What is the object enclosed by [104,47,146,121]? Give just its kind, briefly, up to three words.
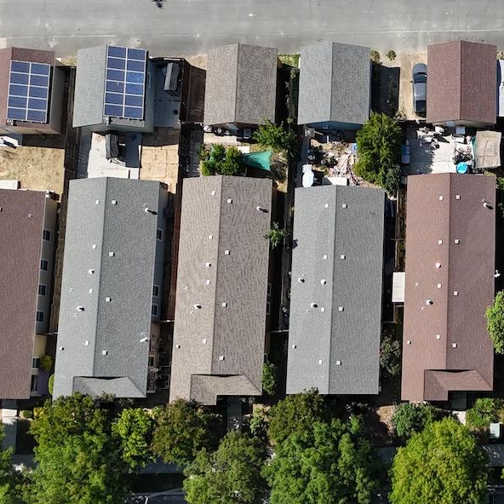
solar array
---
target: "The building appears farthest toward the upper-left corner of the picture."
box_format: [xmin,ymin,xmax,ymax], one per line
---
[0,47,66,134]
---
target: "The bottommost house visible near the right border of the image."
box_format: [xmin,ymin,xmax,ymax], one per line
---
[401,173,500,401]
